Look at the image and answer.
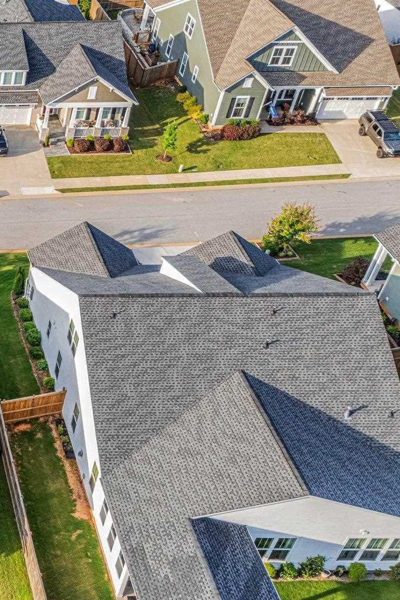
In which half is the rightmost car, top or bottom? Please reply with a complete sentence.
It is in the top half that the rightmost car appears.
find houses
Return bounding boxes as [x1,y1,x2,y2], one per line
[133,0,400,124]
[0,0,141,136]
[19,217,400,600]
